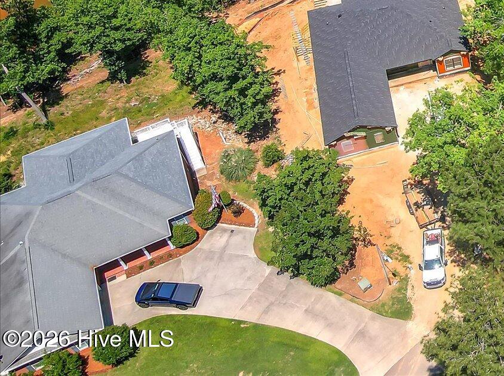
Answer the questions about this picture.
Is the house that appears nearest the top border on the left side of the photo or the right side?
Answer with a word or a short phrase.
right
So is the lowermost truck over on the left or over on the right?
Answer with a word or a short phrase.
left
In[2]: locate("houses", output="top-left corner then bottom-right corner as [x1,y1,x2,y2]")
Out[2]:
[309,0,472,160]
[0,106,211,376]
